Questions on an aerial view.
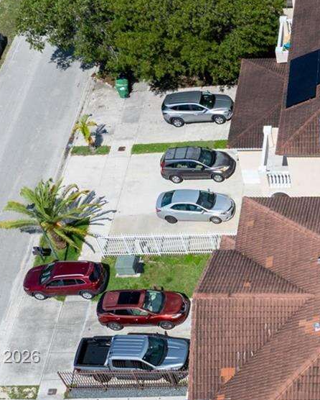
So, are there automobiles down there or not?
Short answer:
Yes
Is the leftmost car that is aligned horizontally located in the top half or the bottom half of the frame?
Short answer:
bottom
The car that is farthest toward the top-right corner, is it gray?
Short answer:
Yes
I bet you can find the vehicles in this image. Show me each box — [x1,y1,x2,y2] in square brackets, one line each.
[21,257,111,300]
[161,90,235,127]
[154,189,237,226]
[72,333,189,382]
[158,146,237,184]
[95,287,191,331]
